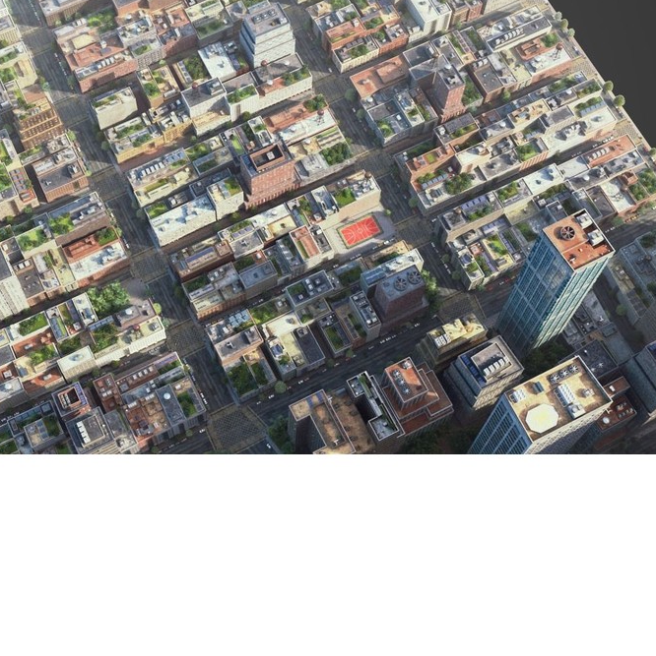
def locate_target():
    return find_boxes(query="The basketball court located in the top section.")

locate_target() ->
[337,214,382,248]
